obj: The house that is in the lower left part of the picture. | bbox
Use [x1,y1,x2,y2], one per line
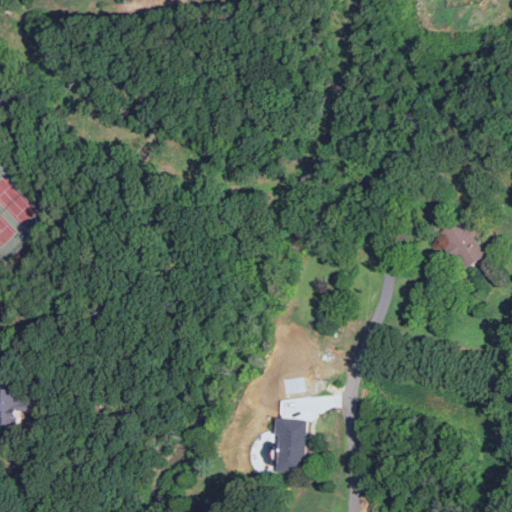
[0,390,28,426]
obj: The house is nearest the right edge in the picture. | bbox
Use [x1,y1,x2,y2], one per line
[440,224,482,267]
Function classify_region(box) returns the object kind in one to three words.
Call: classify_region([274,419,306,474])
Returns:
house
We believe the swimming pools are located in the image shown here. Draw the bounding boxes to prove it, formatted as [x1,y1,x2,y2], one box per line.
[260,442,275,465]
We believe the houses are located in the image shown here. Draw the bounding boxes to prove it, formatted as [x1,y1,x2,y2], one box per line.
[0,390,28,426]
[274,419,306,474]
[440,224,482,267]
